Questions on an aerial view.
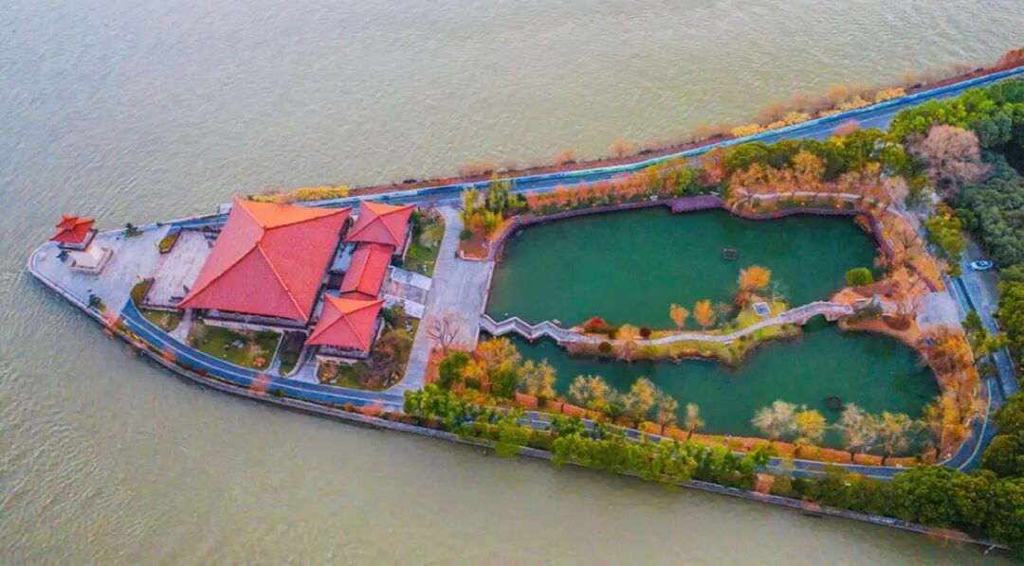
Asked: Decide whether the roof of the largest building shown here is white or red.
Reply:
red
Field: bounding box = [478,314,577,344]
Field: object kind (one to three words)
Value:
bridge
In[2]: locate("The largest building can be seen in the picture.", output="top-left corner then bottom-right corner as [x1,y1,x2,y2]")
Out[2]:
[172,194,353,333]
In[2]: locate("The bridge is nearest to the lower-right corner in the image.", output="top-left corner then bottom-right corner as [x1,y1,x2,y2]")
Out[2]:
[776,299,858,323]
